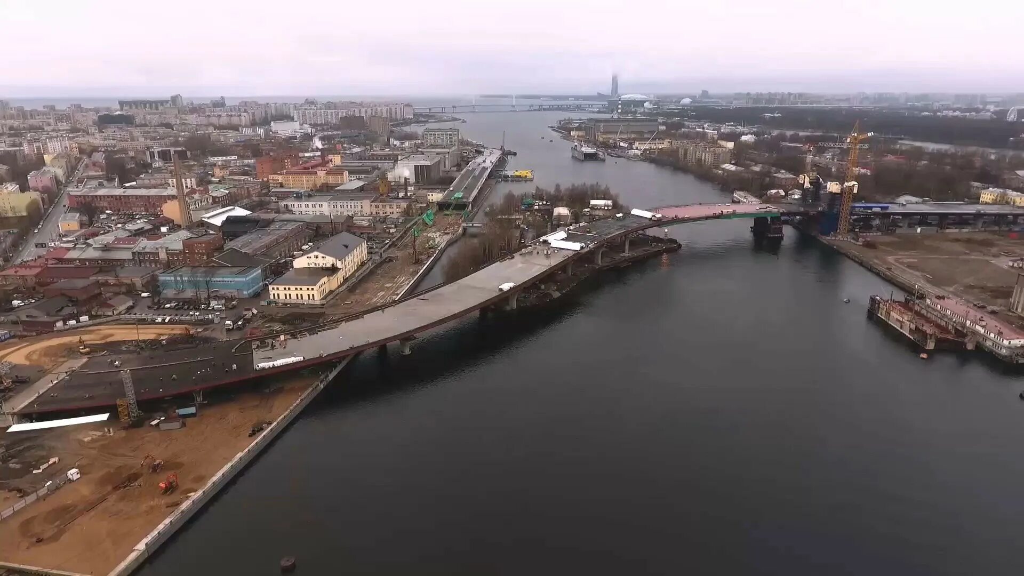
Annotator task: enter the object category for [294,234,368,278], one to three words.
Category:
house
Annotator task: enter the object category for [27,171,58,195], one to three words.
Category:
building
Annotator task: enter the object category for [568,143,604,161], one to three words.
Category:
ship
